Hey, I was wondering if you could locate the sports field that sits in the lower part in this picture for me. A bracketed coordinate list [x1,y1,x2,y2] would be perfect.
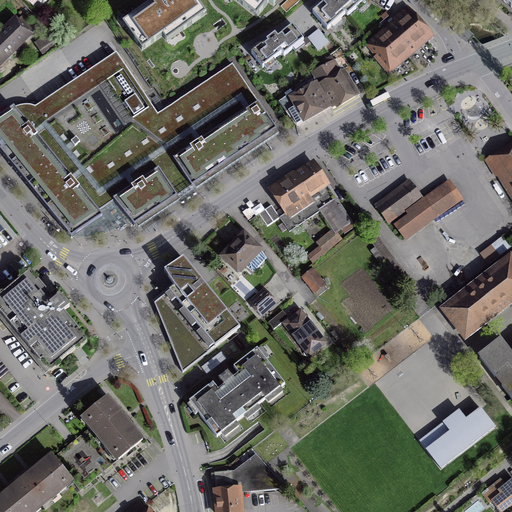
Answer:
[290,384,512,512]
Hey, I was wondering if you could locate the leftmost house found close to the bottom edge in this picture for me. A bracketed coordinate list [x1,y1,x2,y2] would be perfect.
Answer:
[0,452,74,512]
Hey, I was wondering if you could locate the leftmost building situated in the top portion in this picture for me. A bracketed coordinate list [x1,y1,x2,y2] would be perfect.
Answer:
[0,15,33,70]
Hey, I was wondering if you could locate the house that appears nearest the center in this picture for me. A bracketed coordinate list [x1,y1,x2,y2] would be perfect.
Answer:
[218,230,264,277]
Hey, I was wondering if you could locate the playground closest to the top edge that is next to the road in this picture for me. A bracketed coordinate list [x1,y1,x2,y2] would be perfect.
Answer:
[456,89,500,138]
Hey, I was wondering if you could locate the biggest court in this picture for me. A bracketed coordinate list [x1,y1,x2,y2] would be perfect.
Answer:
[376,306,486,438]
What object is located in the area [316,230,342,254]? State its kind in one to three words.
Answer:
barn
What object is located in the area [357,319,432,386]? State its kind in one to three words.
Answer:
playground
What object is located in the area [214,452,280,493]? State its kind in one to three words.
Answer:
building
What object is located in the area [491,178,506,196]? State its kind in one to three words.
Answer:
vehicle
